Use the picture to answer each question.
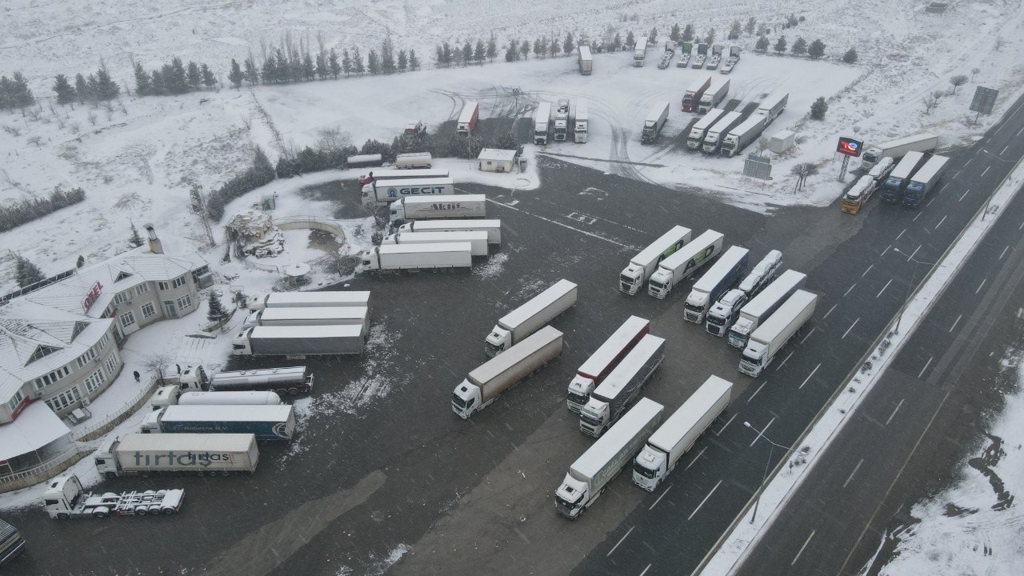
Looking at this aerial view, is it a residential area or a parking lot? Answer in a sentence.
This looks like a parking lot.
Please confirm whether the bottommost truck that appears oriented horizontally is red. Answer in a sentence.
No, the color of the bottommost truck that appears oriented horizontally is white.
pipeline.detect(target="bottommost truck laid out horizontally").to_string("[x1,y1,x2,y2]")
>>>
[34,472,186,516]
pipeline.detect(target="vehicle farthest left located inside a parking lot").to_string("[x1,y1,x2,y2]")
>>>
[0,519,30,572]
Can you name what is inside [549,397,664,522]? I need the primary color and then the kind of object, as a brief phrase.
white truck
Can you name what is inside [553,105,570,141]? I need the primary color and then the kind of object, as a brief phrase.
white vehicle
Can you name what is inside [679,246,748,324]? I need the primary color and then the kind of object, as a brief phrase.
white truck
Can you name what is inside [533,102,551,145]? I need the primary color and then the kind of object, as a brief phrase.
white vehicle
